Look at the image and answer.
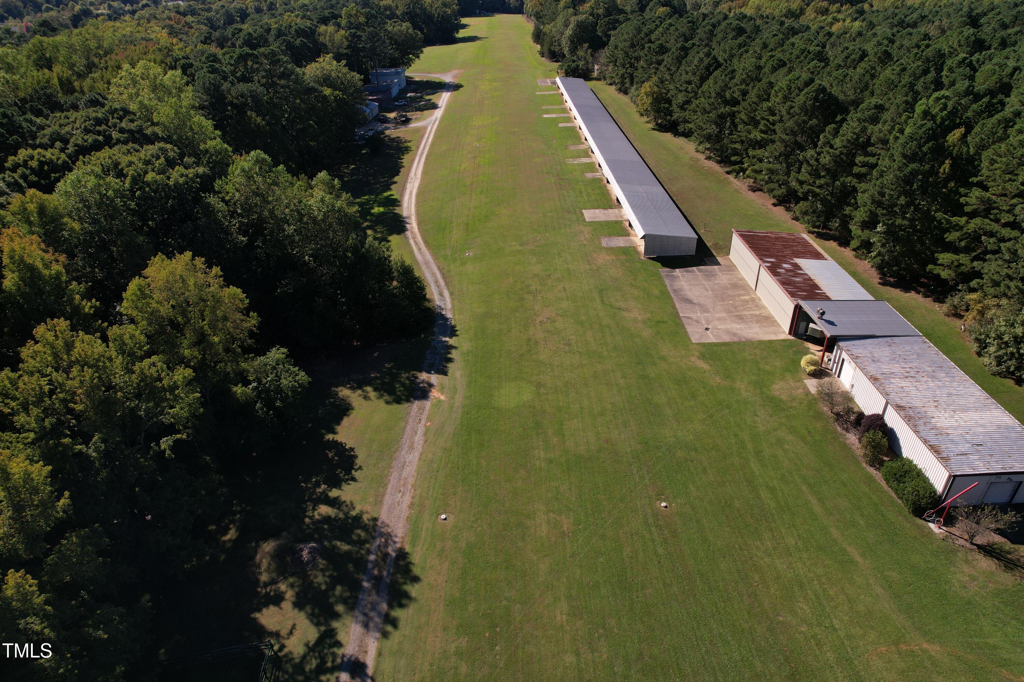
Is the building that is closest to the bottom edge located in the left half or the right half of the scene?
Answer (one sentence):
The building that is closest to the bottom edge sits on the right side.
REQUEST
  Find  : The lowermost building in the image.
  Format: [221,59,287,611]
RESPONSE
[830,336,1024,505]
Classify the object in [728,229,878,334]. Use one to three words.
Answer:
hangar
